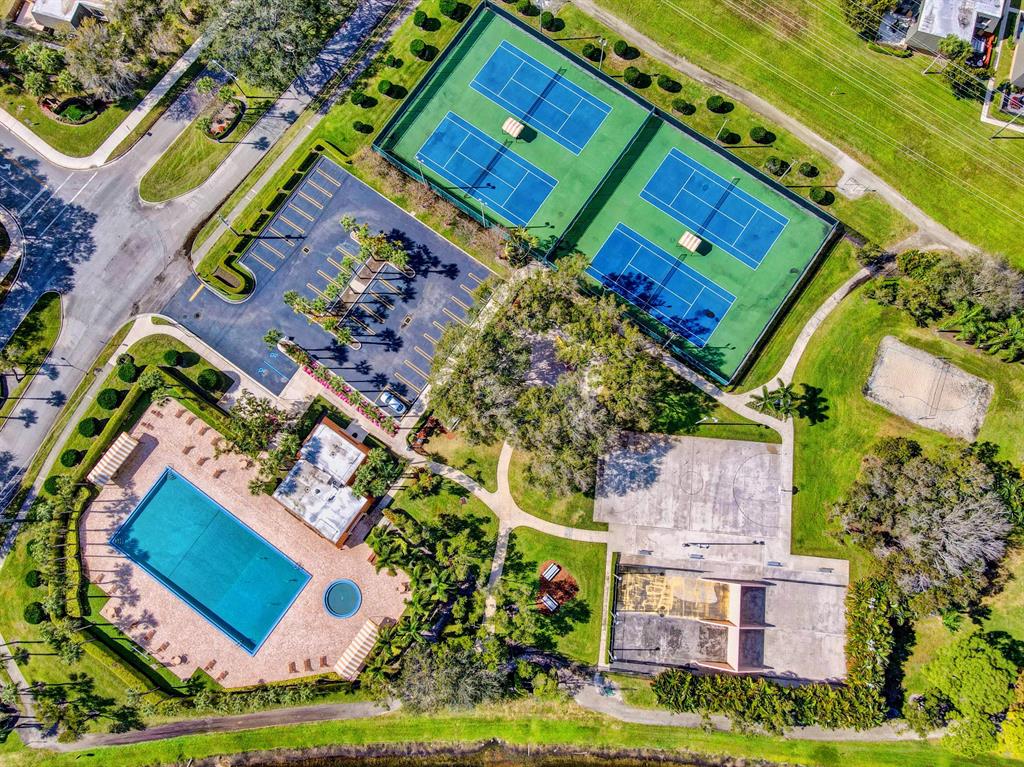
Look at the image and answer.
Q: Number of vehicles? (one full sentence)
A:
Only 1 vehicle is visible.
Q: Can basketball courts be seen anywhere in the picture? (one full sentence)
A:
Yes, there's a basketball court down there.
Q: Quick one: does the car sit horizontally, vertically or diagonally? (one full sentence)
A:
From this overhead view, the car appears to run diagonally.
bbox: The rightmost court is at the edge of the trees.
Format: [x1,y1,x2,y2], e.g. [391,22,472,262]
[869,346,983,428]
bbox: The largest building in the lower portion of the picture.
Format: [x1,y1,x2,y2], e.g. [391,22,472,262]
[272,418,373,548]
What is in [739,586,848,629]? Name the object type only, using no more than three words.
sports court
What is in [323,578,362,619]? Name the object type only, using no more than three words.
swimming pool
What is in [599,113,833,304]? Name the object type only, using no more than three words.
tennis court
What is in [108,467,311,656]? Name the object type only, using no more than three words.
swimming pool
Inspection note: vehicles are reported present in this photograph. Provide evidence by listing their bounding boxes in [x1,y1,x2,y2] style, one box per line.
[380,392,407,415]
